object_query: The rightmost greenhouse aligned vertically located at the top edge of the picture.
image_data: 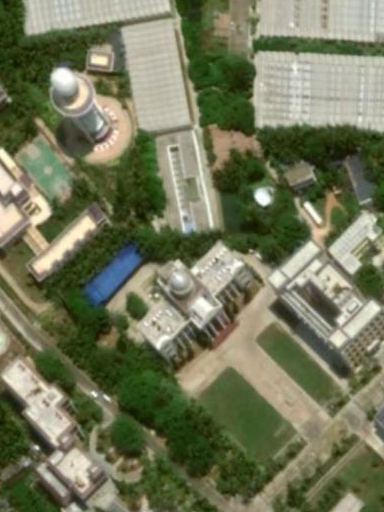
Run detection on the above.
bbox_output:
[121,17,194,133]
